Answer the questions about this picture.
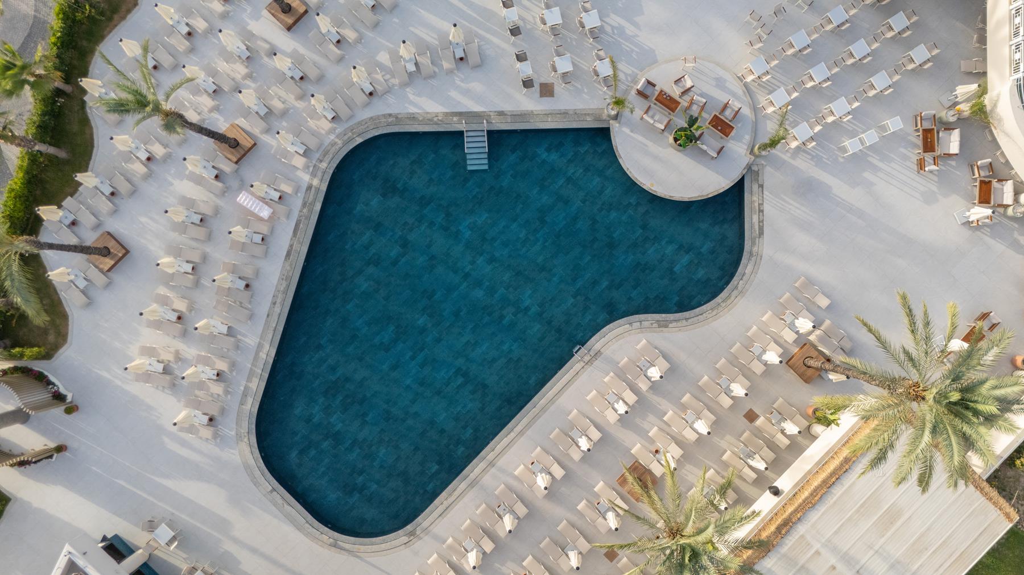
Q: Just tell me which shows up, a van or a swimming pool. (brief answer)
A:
swimming pool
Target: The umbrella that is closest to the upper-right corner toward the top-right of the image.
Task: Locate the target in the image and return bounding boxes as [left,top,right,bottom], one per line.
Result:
[931,83,981,111]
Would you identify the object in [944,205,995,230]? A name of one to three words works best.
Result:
umbrella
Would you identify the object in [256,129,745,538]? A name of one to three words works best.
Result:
swimming pool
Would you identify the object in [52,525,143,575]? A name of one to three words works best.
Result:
shed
